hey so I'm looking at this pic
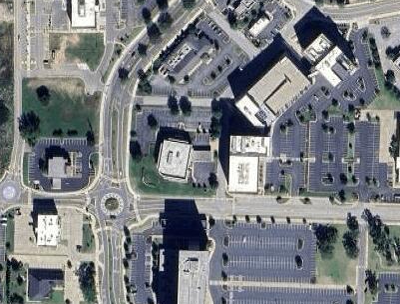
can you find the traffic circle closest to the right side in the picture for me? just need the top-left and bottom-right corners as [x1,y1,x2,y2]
[93,184,132,224]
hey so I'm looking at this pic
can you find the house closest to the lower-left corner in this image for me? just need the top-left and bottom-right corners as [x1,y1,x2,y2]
[27,269,63,300]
